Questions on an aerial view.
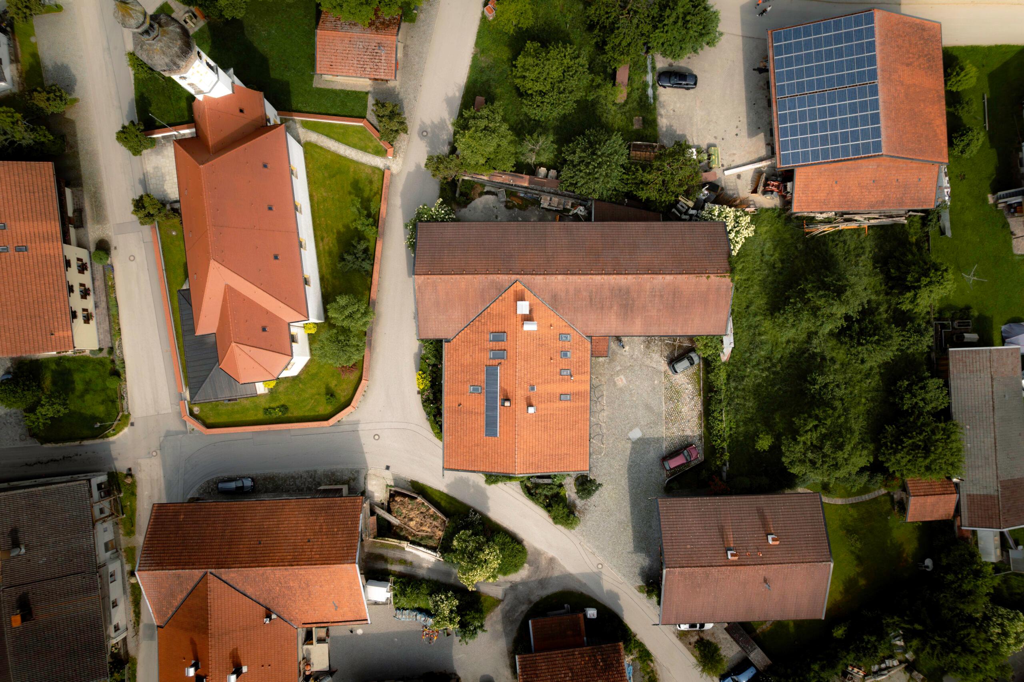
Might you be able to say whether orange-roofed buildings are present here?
Yes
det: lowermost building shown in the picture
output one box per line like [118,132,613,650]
[516,608,634,682]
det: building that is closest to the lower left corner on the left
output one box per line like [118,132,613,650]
[0,477,132,682]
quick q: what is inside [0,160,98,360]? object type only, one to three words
house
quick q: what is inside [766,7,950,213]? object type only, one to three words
barn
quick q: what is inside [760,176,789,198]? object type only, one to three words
work vehicle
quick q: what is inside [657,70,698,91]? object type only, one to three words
car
